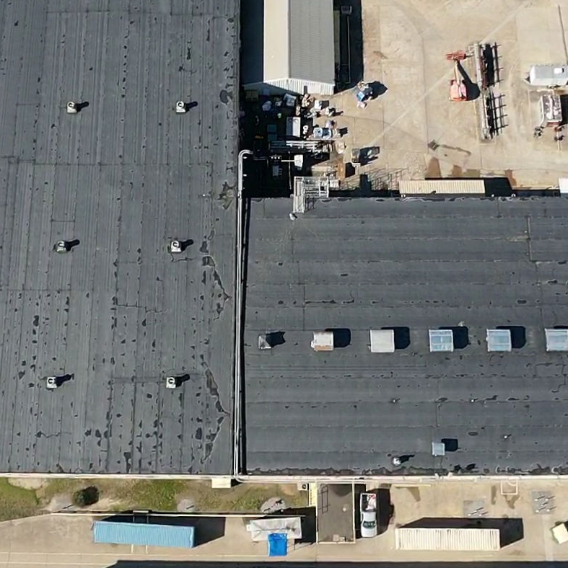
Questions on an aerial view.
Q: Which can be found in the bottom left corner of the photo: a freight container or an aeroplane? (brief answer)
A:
freight container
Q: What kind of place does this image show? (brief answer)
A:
industrial area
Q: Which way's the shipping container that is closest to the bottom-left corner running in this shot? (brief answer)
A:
from left to right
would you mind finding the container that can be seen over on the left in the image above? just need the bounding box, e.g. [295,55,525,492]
[93,521,198,548]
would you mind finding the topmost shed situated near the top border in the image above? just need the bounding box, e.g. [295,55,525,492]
[244,0,335,97]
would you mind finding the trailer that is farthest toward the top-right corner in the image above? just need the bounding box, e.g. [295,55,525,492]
[516,67,568,89]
